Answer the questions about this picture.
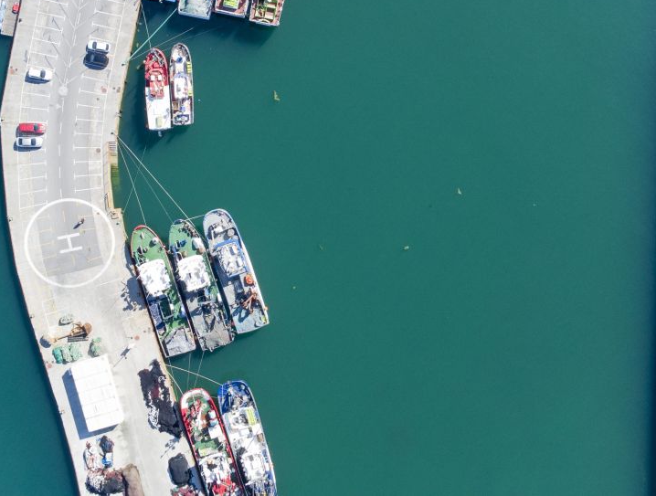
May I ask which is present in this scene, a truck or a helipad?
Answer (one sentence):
The one in the frame is a helipad.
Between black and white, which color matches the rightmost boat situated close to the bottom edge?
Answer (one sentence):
The rightmost boat situated close to the bottom edge is white.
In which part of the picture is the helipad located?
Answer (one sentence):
The helipad appears toward the left of the photo.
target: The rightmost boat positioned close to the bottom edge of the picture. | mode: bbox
[220,380,279,496]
